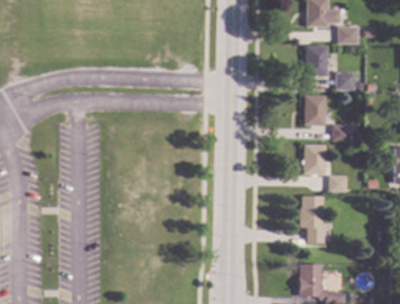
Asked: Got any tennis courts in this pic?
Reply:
No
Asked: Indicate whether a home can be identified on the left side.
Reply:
No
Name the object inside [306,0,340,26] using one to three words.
house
